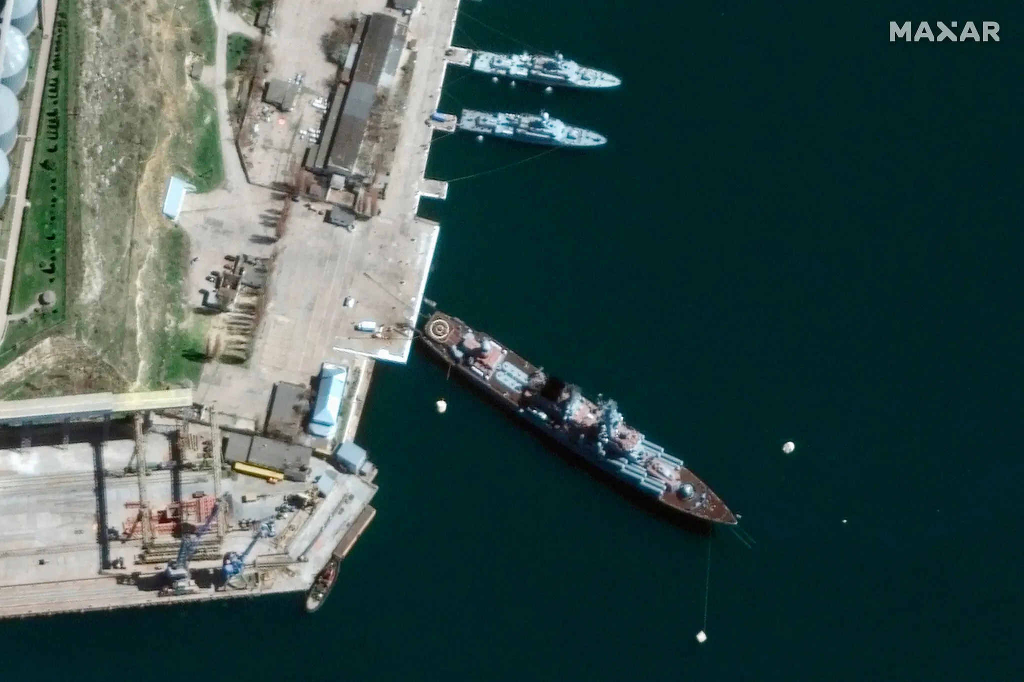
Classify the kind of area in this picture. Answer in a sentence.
The picture captures a port.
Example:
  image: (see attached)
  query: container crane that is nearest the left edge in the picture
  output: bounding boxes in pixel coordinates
[122,411,159,552]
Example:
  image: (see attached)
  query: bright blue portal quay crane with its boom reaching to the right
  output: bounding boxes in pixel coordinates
[213,531,266,593]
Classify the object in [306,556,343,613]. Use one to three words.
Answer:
boat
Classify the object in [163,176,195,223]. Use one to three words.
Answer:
building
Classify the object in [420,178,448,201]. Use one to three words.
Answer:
pier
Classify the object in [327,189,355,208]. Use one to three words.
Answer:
building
